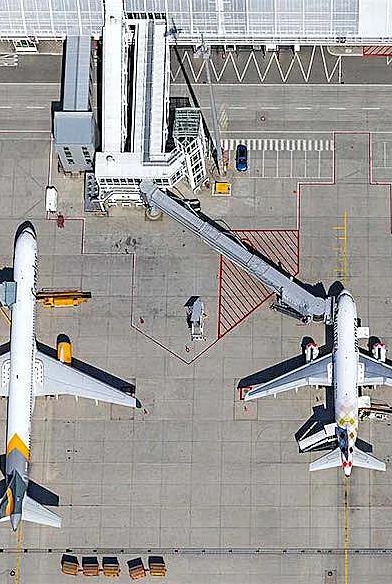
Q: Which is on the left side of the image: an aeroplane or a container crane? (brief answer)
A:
aeroplane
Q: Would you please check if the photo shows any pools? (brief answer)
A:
No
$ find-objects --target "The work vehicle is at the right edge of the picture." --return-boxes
[358,403,392,422]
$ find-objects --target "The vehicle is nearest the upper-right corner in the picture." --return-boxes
[235,145,248,173]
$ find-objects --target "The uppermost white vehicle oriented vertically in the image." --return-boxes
[45,188,57,214]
